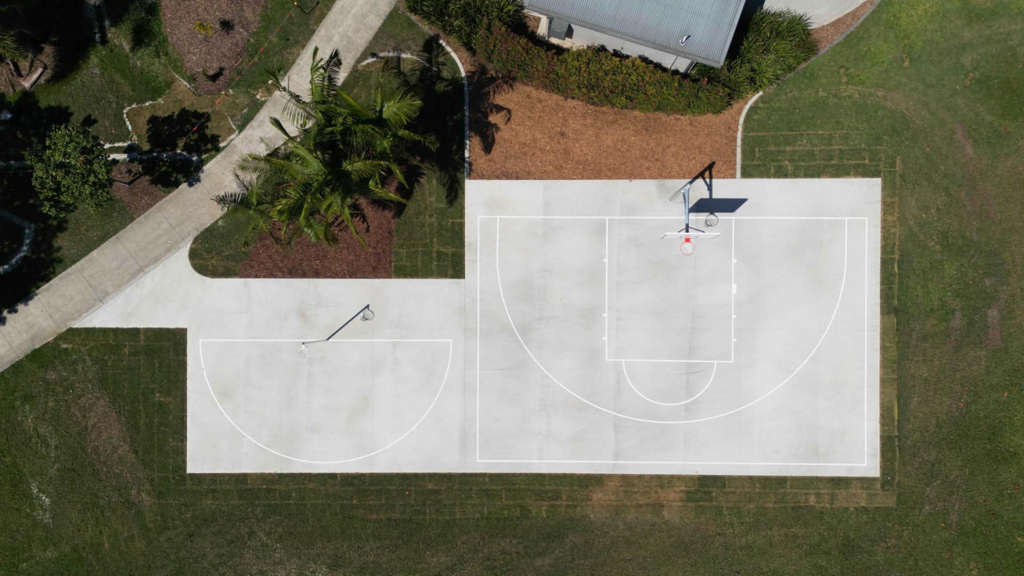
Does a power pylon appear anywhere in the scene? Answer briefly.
No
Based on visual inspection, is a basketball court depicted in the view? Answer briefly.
Yes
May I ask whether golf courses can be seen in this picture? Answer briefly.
No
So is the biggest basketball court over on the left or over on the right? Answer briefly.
right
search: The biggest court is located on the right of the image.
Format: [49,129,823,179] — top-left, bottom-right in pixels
[463,178,881,477]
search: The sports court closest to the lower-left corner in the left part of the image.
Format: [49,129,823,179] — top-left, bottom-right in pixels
[187,328,464,473]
